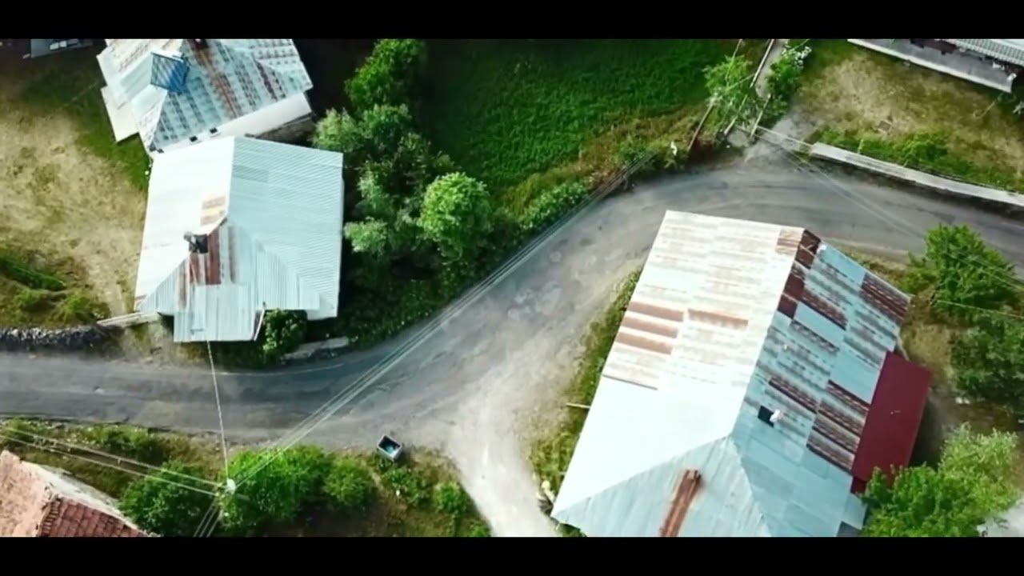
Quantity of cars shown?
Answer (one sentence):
There are no cars in the image.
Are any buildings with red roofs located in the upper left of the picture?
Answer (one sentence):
No, the scene shows no building with a red roof in the upper left of the picture.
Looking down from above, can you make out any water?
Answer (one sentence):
No, the scene doesn't show any water.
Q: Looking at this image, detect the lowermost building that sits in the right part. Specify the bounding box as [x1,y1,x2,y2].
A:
[552,210,931,576]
